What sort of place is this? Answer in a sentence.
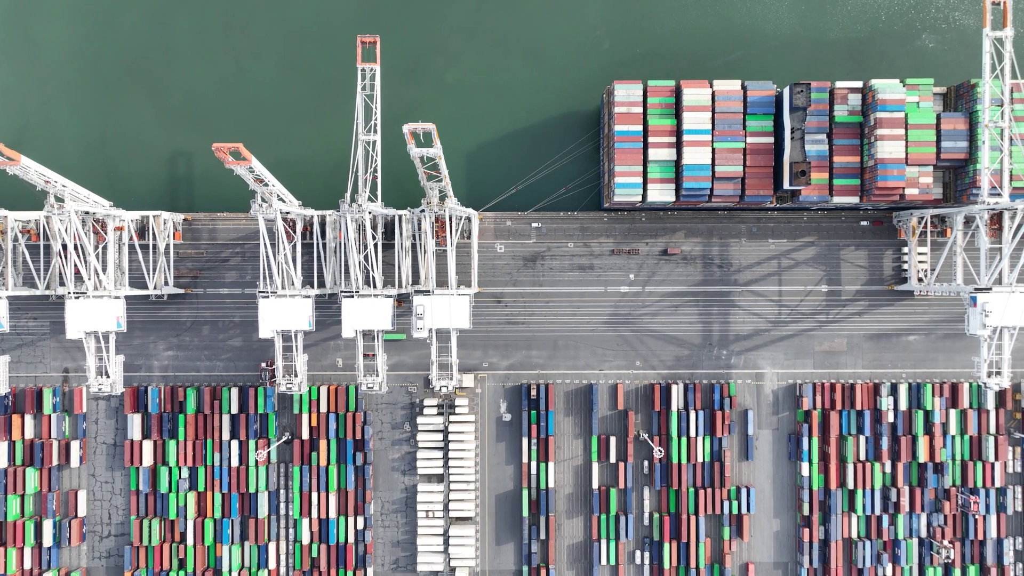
It's a port.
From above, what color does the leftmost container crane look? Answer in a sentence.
The leftmost container crane is white.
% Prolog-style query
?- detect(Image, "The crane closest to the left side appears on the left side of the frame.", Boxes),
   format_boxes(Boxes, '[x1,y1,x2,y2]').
[0,200,84,391]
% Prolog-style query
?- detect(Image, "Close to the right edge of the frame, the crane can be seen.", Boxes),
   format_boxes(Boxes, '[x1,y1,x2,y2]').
[884,0,1024,390]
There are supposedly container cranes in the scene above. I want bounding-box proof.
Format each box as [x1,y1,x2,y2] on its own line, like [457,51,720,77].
[406,120,484,388]
[884,0,1024,390]
[0,139,186,390]
[336,33,419,389]
[0,200,84,391]
[210,136,349,389]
